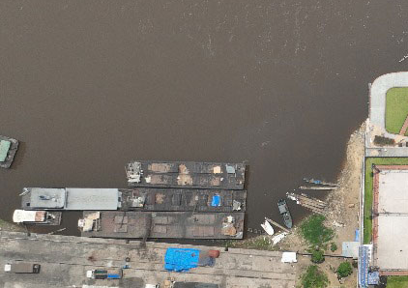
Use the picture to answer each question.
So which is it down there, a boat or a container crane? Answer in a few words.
boat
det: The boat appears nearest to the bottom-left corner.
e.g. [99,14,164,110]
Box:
[14,209,63,225]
